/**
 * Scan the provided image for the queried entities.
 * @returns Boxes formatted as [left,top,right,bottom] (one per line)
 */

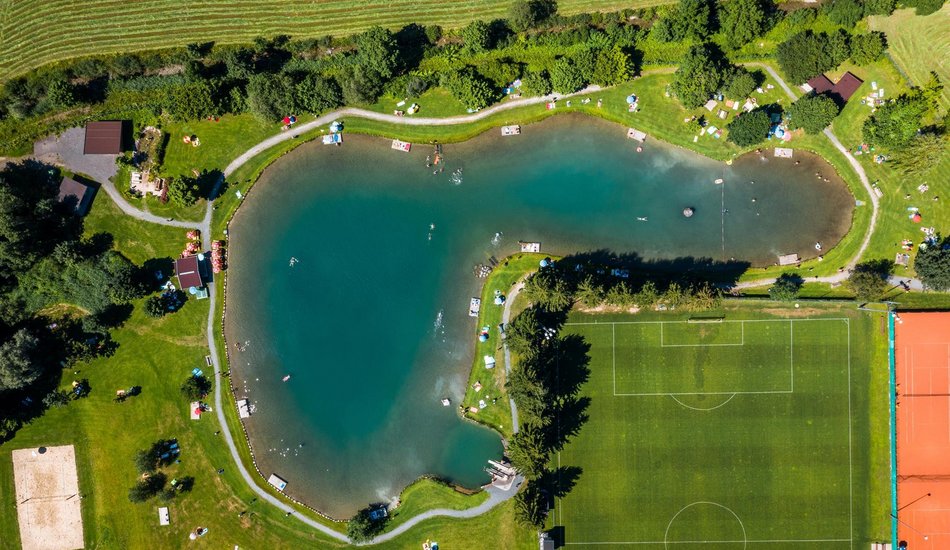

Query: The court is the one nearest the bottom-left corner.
[12,445,85,550]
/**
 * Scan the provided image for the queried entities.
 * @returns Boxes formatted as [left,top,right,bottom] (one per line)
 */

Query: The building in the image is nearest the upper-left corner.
[84,120,126,155]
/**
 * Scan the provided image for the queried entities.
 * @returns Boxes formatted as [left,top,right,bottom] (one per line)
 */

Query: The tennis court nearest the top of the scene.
[893,311,950,477]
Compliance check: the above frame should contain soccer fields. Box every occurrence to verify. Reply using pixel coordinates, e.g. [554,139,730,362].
[553,308,873,550]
